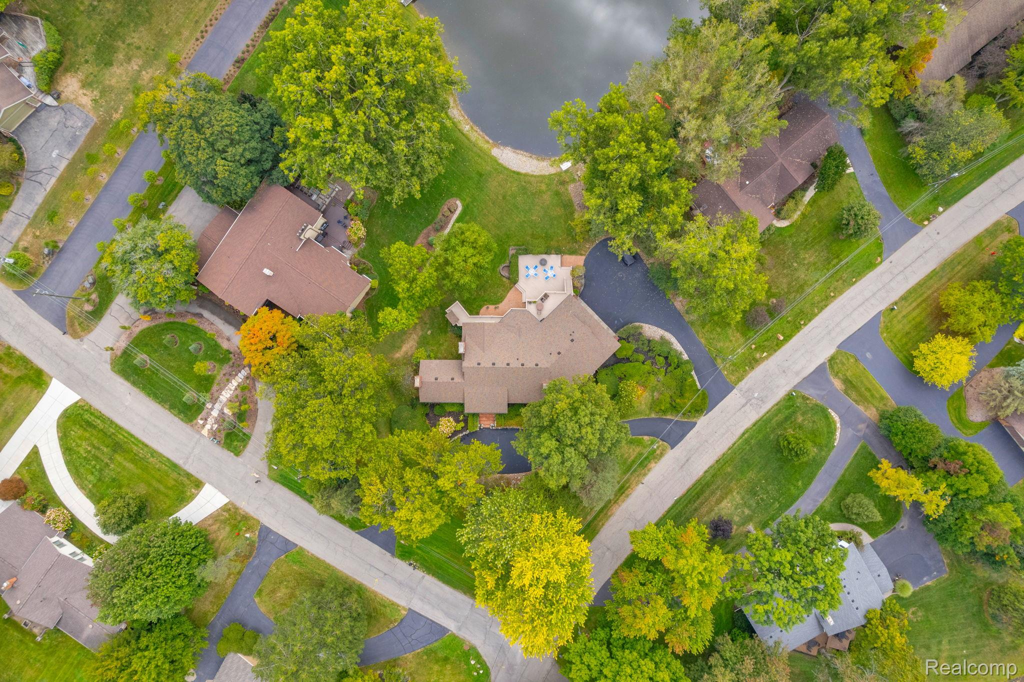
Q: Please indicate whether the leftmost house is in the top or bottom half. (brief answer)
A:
top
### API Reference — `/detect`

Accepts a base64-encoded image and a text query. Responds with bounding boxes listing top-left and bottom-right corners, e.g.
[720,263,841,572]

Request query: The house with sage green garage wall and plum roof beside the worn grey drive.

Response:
[0,49,46,133]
